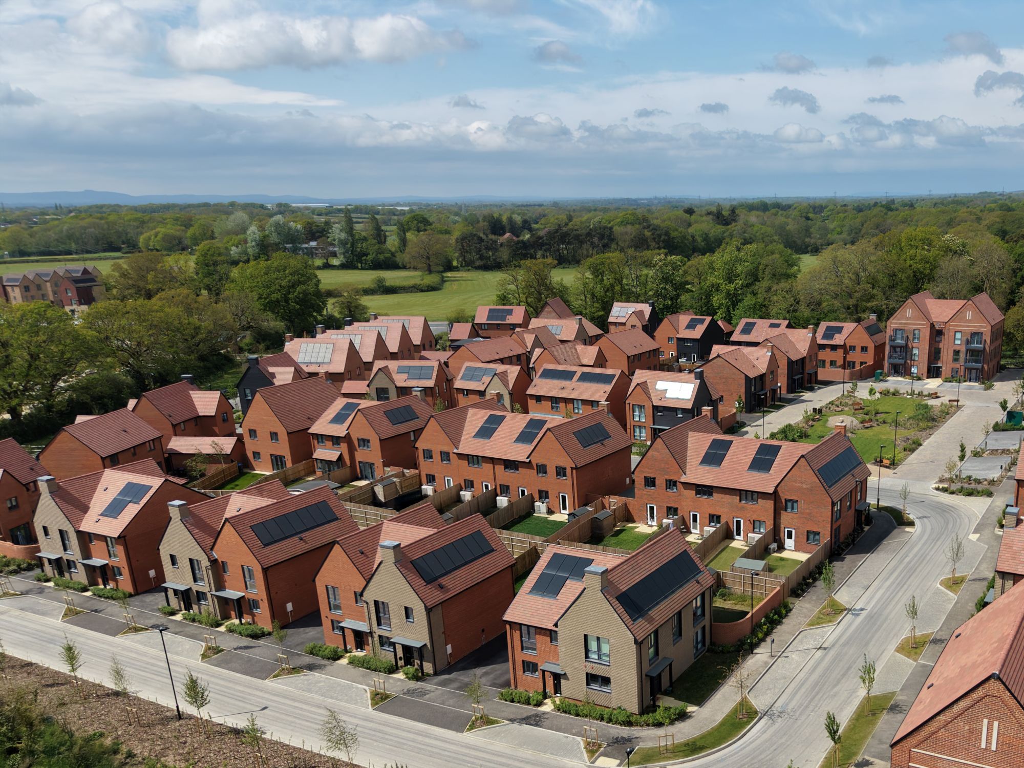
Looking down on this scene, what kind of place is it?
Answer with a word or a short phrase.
residential area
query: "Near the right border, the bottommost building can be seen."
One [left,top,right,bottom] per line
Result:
[887,579,1024,768]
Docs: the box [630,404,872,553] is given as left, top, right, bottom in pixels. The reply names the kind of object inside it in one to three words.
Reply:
house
